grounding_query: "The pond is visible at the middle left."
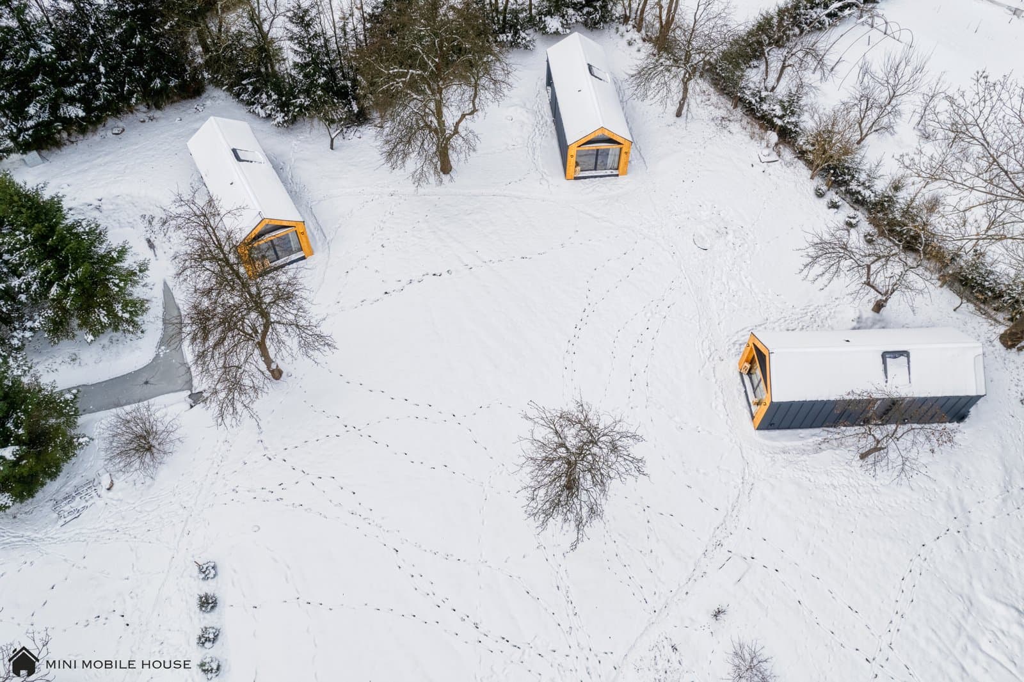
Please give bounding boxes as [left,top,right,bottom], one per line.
[37,284,196,420]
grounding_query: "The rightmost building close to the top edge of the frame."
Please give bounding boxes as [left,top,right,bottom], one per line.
[544,32,632,181]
